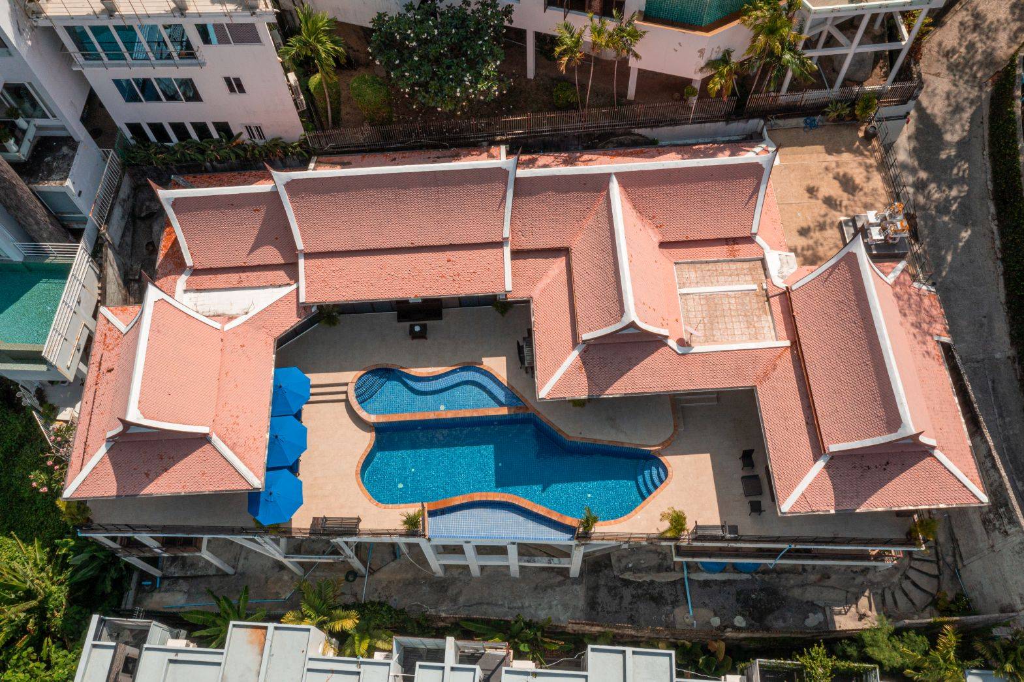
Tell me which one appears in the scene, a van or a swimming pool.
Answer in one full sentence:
Of the two, only a swimming pool appears.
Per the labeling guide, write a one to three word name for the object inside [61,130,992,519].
house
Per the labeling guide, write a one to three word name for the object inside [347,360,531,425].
swimming pool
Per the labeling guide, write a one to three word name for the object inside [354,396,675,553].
swimming pool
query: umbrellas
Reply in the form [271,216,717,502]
[271,415,315,471]
[276,364,318,418]
[241,468,311,533]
